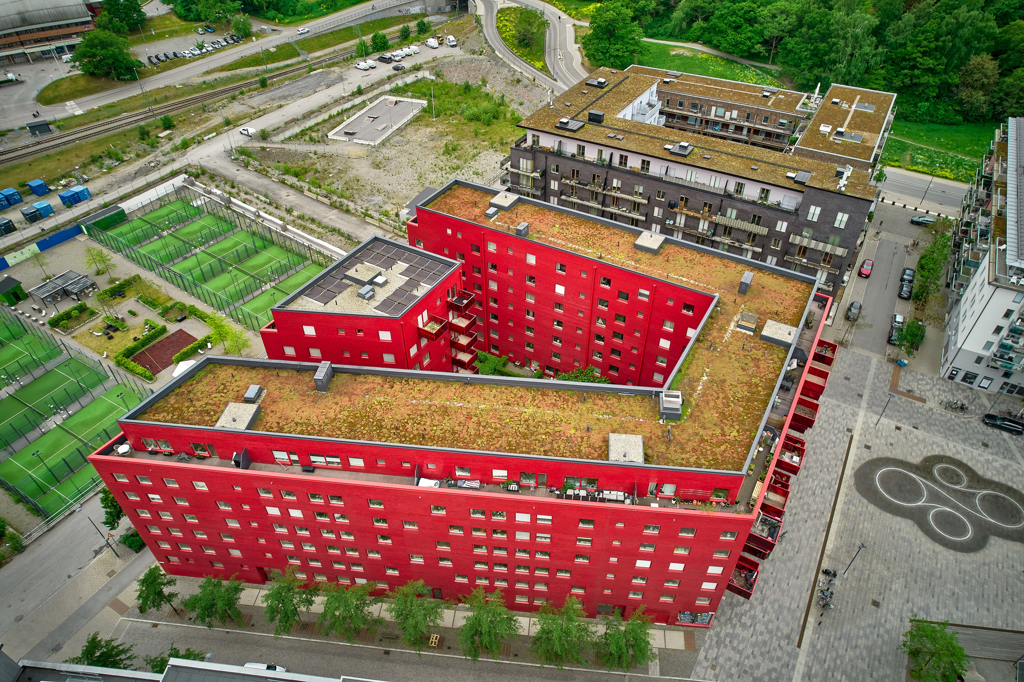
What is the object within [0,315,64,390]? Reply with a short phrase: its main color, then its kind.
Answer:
green sports court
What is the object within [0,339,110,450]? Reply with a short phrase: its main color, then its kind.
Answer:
green sports court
